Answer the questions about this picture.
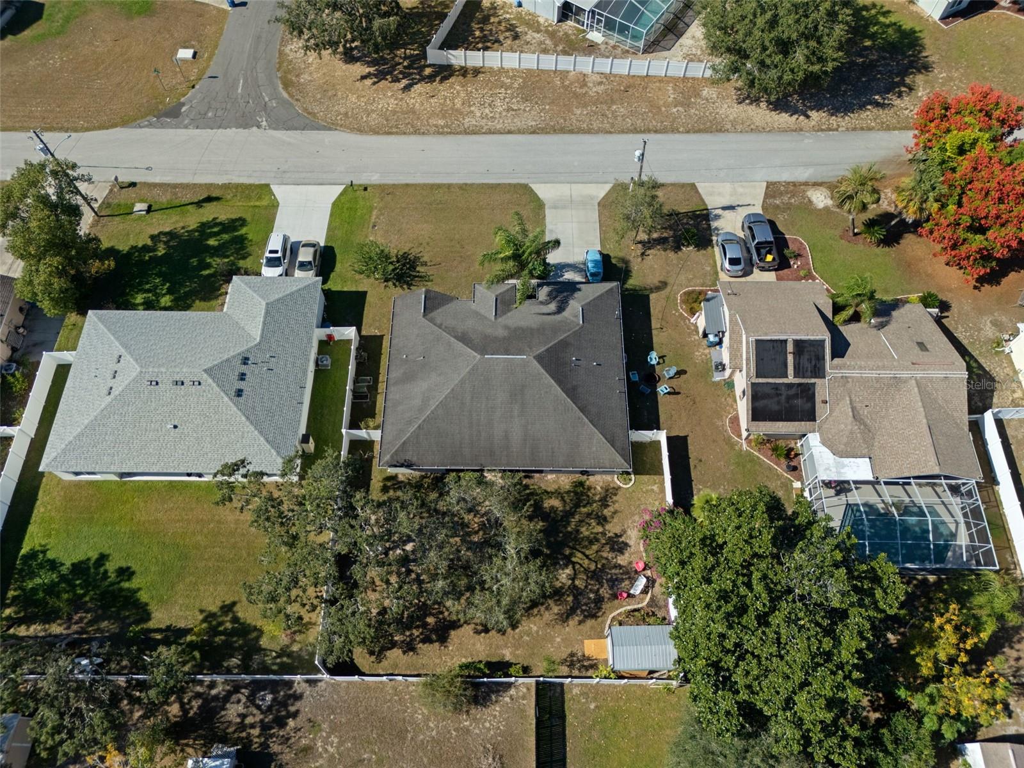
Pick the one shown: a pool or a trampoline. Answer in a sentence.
There is a pool in the scene.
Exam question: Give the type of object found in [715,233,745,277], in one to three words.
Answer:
car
